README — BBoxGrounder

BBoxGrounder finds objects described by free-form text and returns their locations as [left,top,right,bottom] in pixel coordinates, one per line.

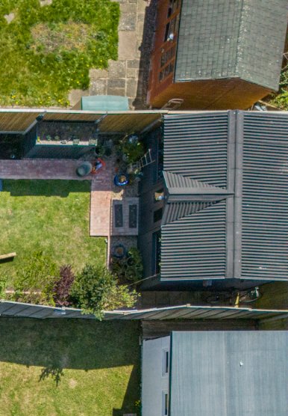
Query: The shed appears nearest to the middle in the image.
[140,112,288,290]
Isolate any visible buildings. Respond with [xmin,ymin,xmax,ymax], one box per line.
[140,112,288,290]
[142,331,288,416]
[148,0,283,109]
